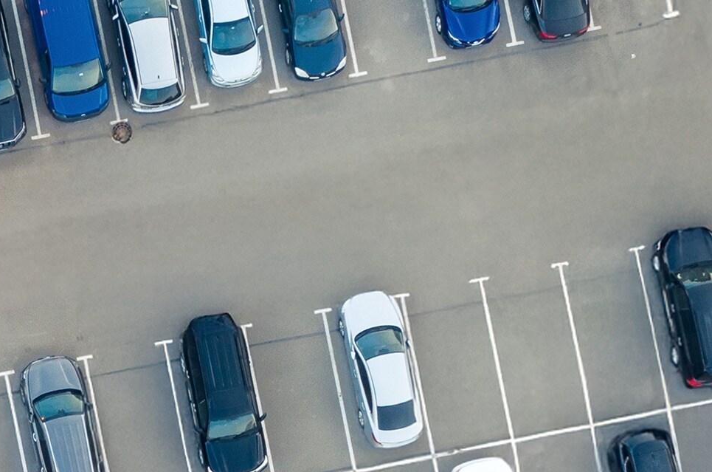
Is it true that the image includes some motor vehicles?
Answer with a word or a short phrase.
Yes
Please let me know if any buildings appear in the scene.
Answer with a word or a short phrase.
No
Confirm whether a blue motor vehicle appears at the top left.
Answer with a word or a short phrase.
Yes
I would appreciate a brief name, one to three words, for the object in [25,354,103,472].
car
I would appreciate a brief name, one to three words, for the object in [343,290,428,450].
car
